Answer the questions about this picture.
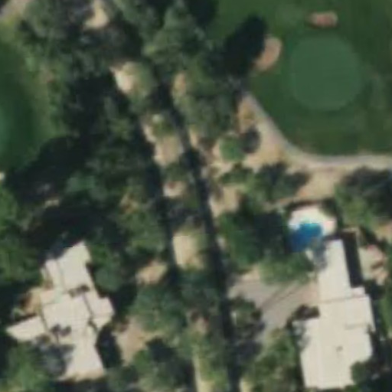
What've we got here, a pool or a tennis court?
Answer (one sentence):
There is a pool in the scene.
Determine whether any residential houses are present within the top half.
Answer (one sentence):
No, within the top half there is no residential house.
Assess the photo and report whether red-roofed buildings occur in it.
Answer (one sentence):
No, there's no red-roofed building here.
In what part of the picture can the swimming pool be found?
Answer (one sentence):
The swimming pool is located in the right region of the scene.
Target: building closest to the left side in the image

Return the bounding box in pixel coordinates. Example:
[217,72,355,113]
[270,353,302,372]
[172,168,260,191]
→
[7,240,115,380]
